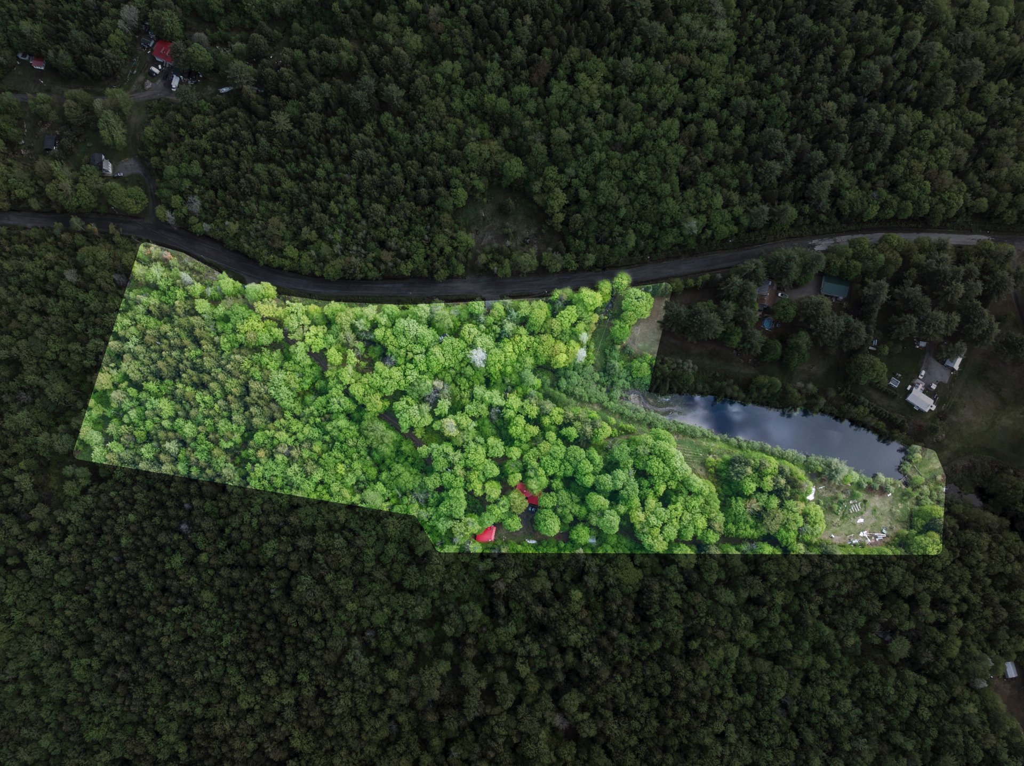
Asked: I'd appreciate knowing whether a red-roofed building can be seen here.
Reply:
Yes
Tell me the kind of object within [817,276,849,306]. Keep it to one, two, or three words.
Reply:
house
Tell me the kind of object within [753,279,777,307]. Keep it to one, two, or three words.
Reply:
house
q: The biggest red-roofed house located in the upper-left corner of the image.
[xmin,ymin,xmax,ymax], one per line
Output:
[150,40,179,72]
